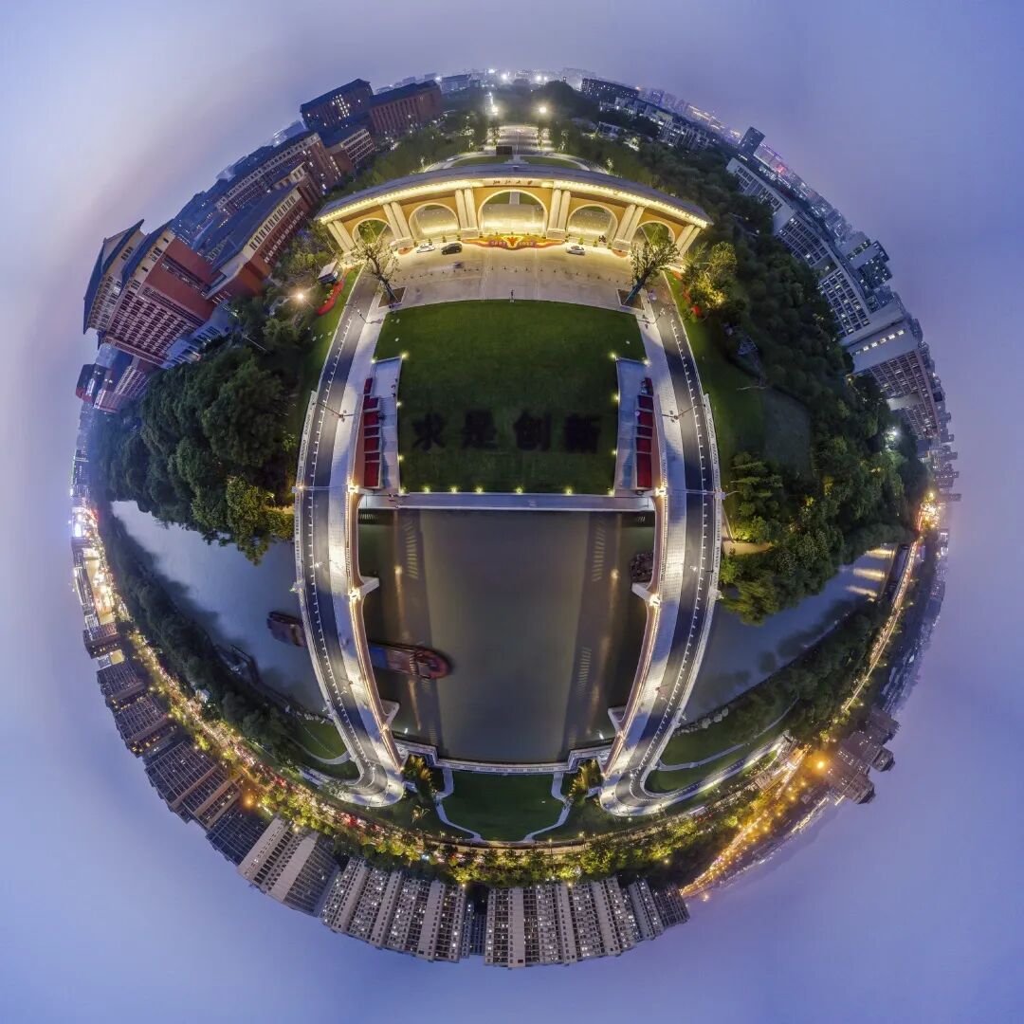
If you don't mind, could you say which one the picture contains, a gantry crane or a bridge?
bridge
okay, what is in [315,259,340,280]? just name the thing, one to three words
building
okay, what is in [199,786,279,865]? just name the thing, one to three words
building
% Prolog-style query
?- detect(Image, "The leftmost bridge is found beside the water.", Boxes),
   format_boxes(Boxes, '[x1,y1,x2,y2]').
[207,206,428,814]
